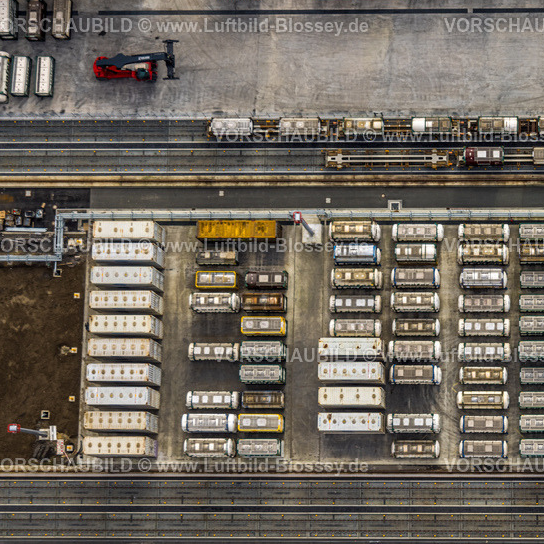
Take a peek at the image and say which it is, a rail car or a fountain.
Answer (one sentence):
The one in the frame is a rail car.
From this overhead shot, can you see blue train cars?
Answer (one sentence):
No, this view has no blue train car in it.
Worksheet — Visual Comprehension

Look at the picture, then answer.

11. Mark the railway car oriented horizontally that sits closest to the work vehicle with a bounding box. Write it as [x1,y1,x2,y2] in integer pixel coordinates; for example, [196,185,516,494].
[203,119,327,138]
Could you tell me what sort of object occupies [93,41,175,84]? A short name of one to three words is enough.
work vehicle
